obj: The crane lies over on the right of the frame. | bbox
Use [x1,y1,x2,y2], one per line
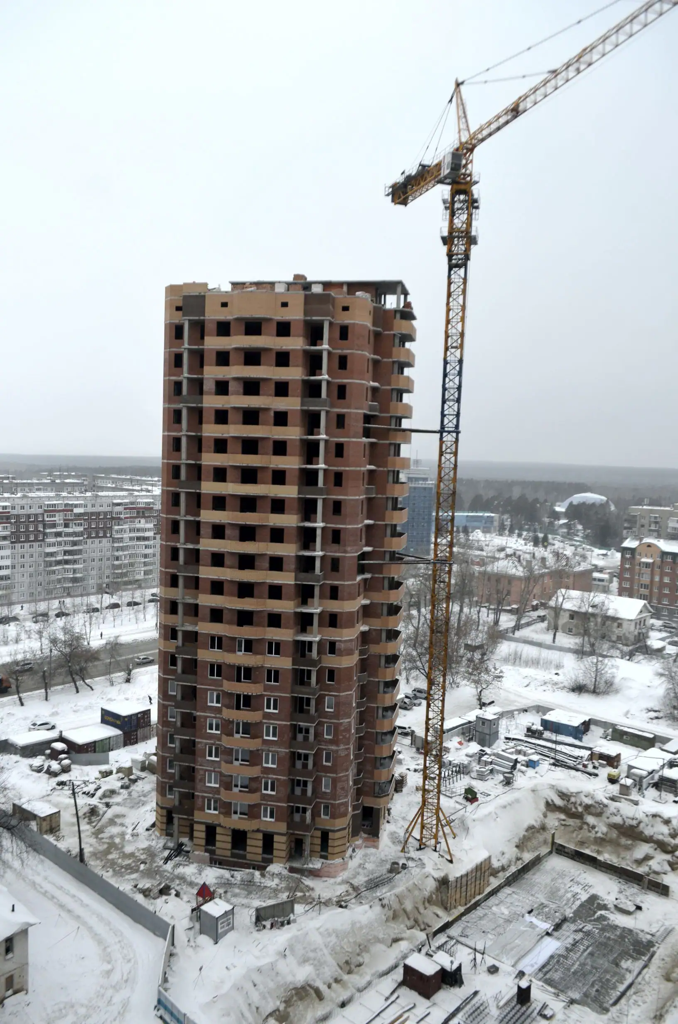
[361,0,678,865]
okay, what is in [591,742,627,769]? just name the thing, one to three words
shed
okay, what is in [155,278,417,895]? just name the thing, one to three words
building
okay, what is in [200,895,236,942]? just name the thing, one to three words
building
